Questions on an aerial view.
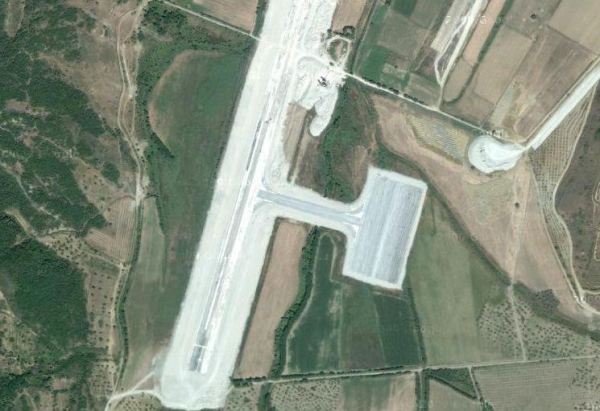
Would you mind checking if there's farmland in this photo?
Yes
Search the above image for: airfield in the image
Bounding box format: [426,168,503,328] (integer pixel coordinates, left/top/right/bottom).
[160,0,428,410]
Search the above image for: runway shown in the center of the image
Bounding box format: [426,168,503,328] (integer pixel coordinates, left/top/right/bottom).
[190,0,296,371]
